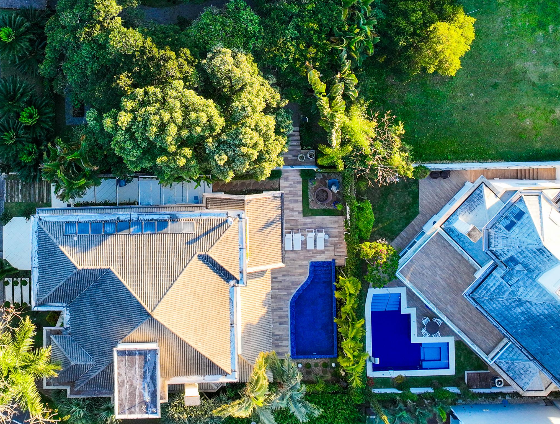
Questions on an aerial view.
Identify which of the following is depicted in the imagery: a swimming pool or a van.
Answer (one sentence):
The one in the frame is a swimming pool.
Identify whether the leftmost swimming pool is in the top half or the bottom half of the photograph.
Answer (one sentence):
The bottom half of the photo is where the leftmost swimming pool is.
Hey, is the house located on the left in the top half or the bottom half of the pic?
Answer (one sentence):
The bottom half of the photo is where the house located on the left is.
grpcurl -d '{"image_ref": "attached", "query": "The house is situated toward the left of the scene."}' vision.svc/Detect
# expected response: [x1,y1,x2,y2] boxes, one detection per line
[30,183,288,424]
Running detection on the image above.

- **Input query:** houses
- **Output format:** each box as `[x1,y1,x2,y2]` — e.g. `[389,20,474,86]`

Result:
[30,183,288,424]
[390,164,560,397]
